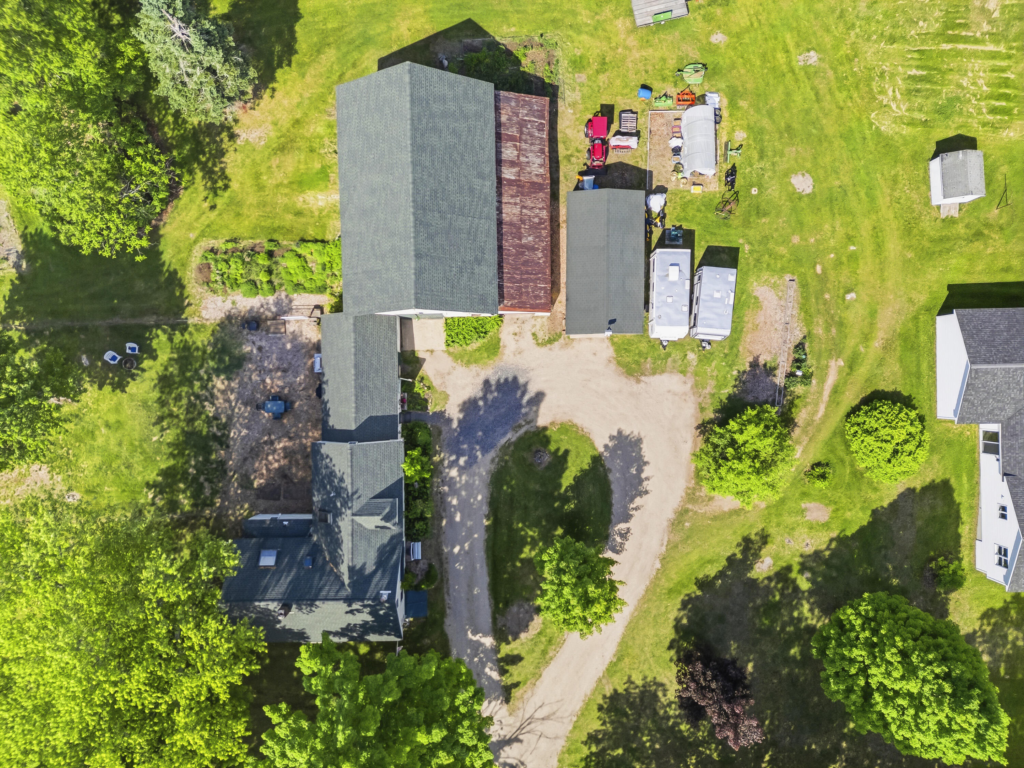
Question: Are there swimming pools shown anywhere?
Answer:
No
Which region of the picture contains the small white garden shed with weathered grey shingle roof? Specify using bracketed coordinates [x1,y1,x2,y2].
[929,149,986,206]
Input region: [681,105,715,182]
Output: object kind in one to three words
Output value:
building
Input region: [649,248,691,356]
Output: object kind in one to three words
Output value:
vehicle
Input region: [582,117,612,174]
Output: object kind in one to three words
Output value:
work vehicle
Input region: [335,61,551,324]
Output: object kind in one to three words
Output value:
barn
